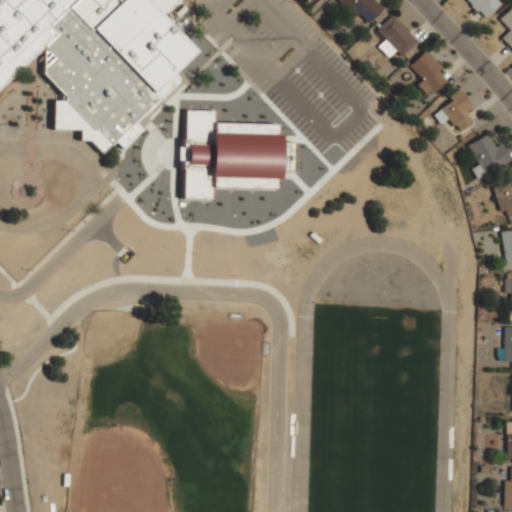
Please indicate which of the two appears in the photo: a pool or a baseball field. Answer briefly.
baseball field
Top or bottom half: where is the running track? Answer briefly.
bottom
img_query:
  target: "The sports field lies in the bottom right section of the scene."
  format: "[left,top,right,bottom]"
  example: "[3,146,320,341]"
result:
[308,302,442,512]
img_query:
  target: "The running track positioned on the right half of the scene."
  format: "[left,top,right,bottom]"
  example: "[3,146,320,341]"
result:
[292,236,457,512]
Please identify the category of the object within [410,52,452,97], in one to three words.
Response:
house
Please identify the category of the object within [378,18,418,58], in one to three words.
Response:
house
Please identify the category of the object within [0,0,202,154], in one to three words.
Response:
building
